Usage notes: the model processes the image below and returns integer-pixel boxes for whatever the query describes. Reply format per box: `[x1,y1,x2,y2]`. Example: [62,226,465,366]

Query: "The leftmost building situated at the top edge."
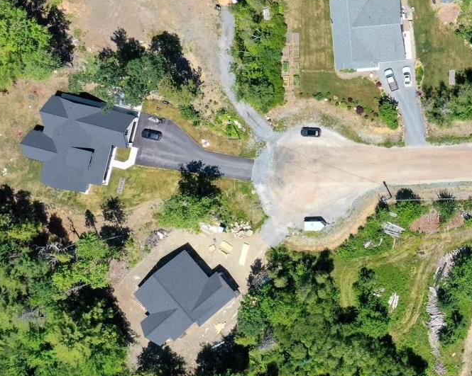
[329,0,404,72]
